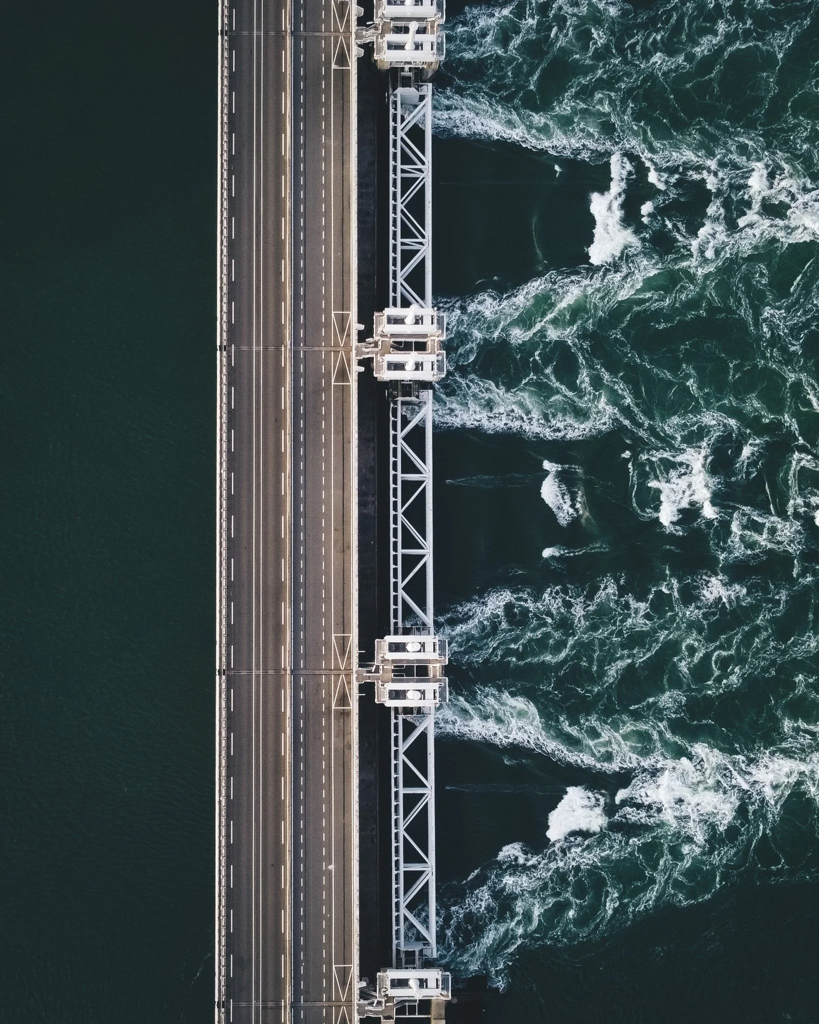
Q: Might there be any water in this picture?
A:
Yes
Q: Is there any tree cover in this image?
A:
No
